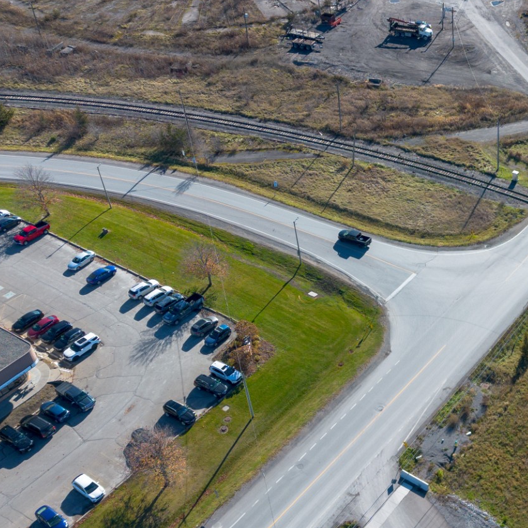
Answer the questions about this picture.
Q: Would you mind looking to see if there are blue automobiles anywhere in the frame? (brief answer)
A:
Yes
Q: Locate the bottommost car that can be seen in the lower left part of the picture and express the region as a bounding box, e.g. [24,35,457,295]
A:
[29,501,71,528]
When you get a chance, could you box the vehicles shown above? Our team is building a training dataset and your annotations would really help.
[65,250,99,272]
[29,501,71,528]
[50,323,87,354]
[189,368,231,397]
[60,328,103,362]
[15,411,58,441]
[125,278,164,302]
[67,469,107,507]
[161,293,206,324]
[388,18,431,39]
[84,265,120,286]
[139,284,179,309]
[35,400,74,425]
[35,314,78,345]
[25,314,60,341]
[335,231,375,250]
[202,322,237,348]
[151,292,187,316]
[52,377,97,411]
[11,222,53,246]
[206,355,244,387]
[0,214,25,232]
[185,315,225,338]
[0,207,14,217]
[8,308,50,334]
[158,397,199,427]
